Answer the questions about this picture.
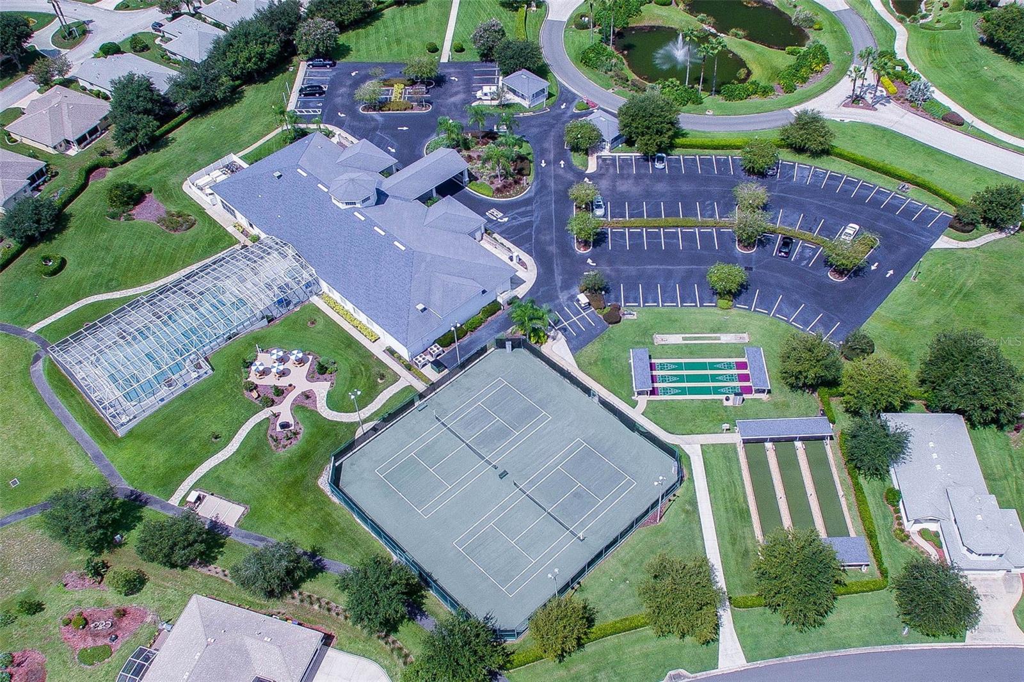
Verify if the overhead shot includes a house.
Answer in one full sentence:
Yes, the photo shows a house.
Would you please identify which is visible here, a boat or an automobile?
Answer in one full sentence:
Of the two, only an automobile appears.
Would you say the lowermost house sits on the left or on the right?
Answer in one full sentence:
You can find the lowermost house on the left side of the picture.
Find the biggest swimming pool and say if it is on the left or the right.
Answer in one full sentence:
The biggest swimming pool sits on the left side.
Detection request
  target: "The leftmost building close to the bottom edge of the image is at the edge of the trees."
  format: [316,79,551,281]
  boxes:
[141,594,324,682]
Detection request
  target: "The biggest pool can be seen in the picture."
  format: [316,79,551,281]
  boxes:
[101,292,265,411]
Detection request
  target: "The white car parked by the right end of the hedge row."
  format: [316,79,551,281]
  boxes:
[840,222,860,243]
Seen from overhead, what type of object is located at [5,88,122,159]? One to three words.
house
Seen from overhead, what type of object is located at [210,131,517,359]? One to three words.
building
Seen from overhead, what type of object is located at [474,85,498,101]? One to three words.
vehicle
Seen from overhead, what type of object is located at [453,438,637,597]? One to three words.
tennis court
